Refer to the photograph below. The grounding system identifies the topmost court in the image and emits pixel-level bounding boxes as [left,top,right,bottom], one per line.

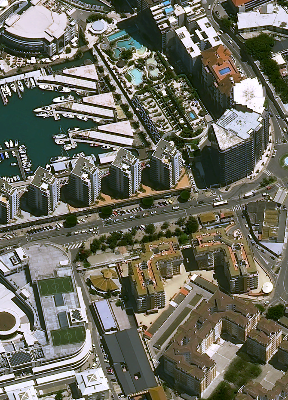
[38,276,75,298]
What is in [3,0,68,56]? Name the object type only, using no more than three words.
building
